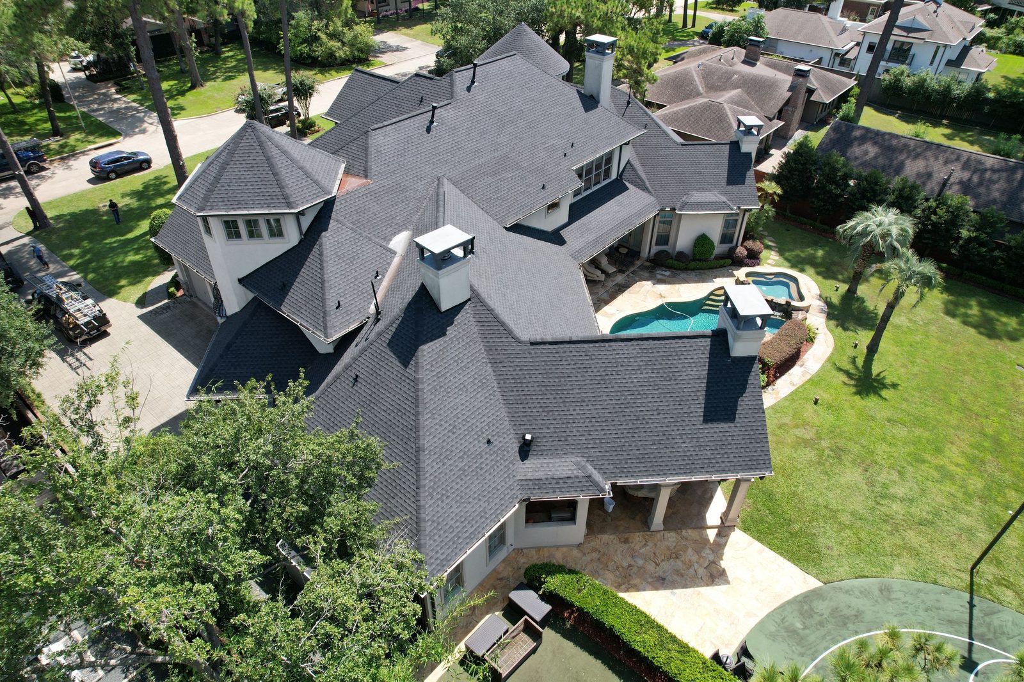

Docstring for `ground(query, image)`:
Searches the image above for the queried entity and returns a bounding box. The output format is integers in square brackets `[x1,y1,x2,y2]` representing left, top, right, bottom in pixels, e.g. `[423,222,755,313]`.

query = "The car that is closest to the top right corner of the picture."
[692,21,719,39]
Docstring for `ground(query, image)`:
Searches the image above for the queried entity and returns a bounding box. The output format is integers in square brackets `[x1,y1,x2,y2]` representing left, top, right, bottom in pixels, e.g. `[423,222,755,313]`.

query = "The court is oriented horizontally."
[724,578,1024,682]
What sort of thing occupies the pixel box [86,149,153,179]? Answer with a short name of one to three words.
car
